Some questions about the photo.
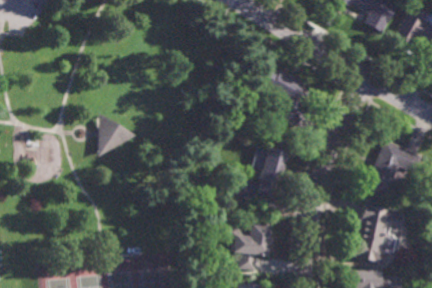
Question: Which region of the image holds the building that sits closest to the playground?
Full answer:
The building that sits closest to the playground sits in the left section of the image.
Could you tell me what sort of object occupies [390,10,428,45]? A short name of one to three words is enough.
house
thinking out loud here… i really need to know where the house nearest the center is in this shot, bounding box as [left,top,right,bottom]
[251,150,290,192]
